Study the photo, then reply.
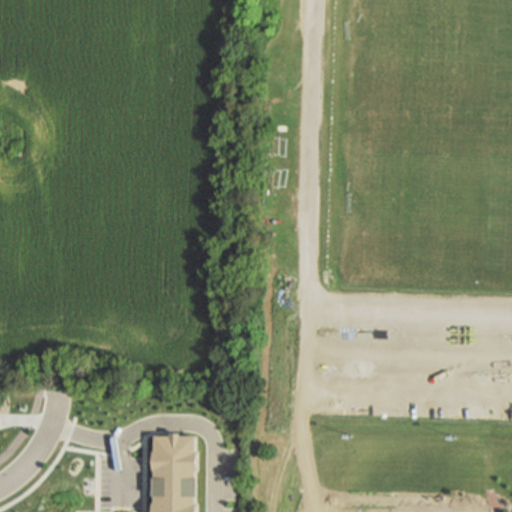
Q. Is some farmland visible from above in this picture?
Yes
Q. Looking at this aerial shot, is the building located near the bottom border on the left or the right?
left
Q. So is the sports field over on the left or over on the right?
right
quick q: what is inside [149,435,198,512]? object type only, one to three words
building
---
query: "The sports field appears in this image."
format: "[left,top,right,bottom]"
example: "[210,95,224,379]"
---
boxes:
[336,0,512,291]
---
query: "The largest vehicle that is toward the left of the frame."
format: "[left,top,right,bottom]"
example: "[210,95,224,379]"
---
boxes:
[110,428,122,472]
